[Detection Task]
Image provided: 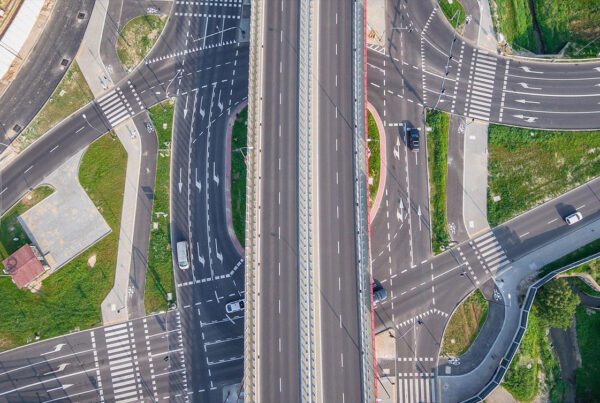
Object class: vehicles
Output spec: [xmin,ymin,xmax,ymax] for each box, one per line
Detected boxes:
[371,289,389,305]
[408,129,420,152]
[225,300,244,313]
[178,240,191,270]
[561,211,582,226]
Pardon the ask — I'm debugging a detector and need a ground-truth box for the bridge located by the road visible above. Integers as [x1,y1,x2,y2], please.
[243,0,376,403]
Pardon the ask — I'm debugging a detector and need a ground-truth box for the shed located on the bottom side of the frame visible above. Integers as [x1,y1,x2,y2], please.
[1,244,49,289]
